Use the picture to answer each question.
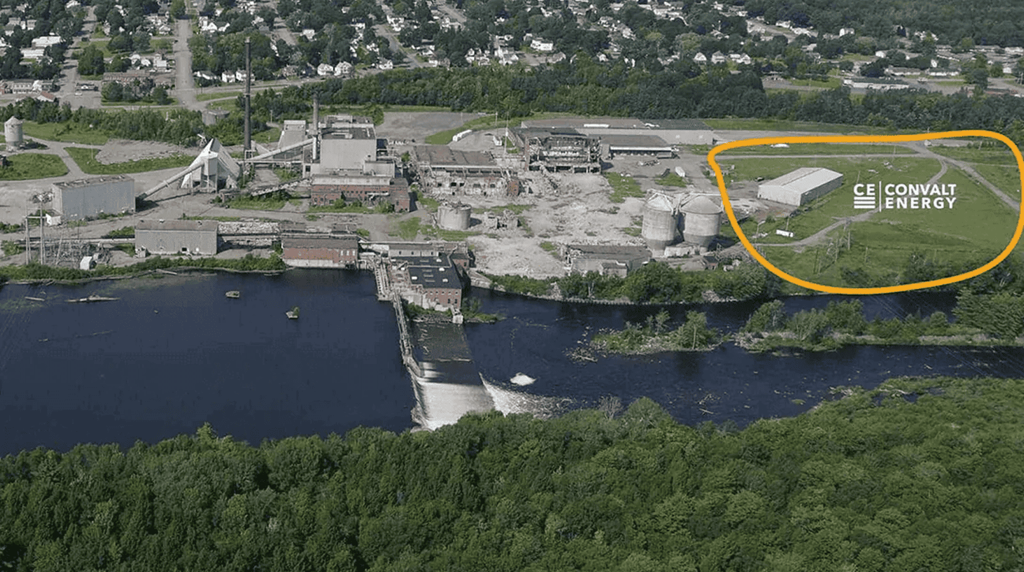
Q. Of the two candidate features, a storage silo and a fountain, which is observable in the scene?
storage silo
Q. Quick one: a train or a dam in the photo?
dam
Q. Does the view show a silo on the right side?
Yes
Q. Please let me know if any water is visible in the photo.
Yes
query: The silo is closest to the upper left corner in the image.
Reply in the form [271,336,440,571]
[1,114,24,148]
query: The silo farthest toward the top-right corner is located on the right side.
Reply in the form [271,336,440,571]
[682,197,724,251]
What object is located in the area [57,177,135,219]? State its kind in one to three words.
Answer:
building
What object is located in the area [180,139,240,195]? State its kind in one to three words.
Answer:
house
